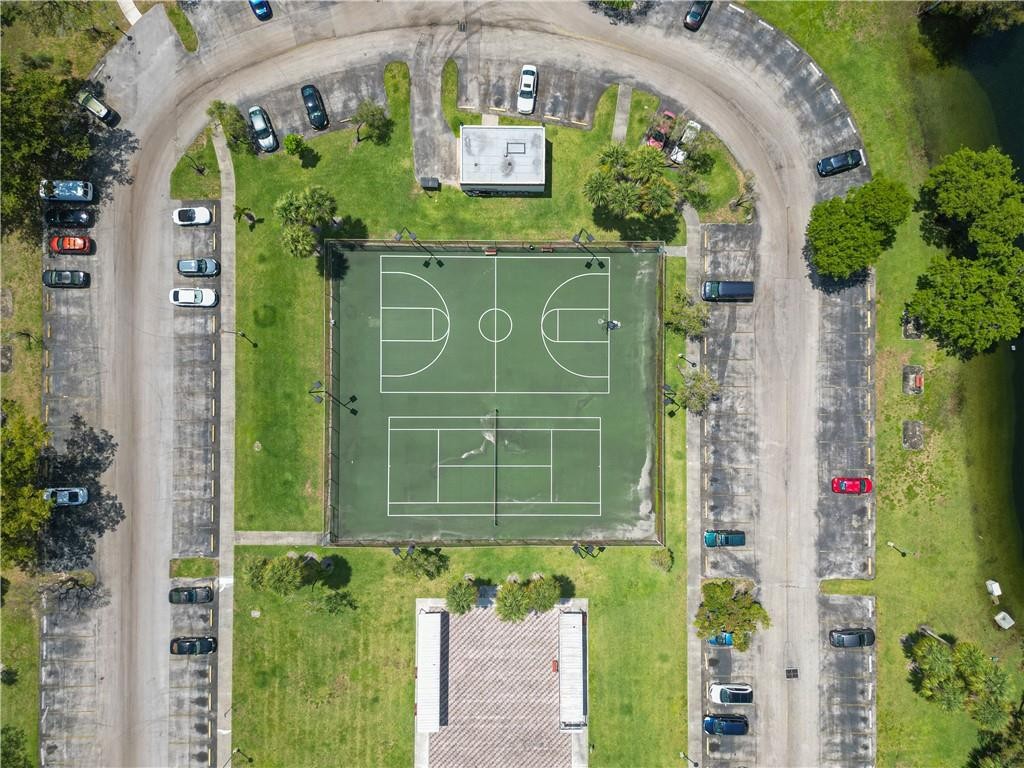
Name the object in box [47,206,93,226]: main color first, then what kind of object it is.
black car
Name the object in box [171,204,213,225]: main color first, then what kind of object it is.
white car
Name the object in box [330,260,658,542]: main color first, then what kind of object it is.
green tennis court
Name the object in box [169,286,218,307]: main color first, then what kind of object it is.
white car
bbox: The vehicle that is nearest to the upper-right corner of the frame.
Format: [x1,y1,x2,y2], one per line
[815,150,861,177]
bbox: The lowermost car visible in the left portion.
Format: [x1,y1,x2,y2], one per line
[171,635,218,658]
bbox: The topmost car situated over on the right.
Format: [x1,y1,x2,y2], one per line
[685,0,714,31]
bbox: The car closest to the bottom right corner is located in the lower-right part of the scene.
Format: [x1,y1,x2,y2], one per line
[830,626,874,648]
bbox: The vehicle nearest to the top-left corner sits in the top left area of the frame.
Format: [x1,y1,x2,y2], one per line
[79,90,123,129]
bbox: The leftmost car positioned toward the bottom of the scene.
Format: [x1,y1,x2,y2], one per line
[46,486,88,507]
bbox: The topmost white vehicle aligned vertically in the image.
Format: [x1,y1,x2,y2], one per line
[516,65,537,114]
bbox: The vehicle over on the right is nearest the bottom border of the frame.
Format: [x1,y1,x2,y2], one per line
[704,714,748,737]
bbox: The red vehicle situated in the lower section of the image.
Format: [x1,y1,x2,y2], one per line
[833,476,872,496]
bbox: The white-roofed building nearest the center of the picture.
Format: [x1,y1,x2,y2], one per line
[460,126,545,192]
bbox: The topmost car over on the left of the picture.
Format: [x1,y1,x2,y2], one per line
[250,0,272,20]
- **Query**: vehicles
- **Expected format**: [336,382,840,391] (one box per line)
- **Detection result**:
[46,486,88,507]
[685,0,714,31]
[644,108,674,148]
[45,268,90,289]
[709,682,753,706]
[169,585,215,606]
[815,150,861,177]
[516,65,537,114]
[833,476,872,496]
[669,120,703,165]
[248,106,278,153]
[702,627,742,648]
[169,286,218,307]
[79,90,123,129]
[171,635,218,658]
[704,714,748,737]
[178,256,221,277]
[42,179,93,202]
[830,626,874,648]
[52,234,91,254]
[301,84,330,131]
[171,204,213,225]
[250,0,272,20]
[47,206,93,226]
[703,529,745,549]
[701,279,756,302]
